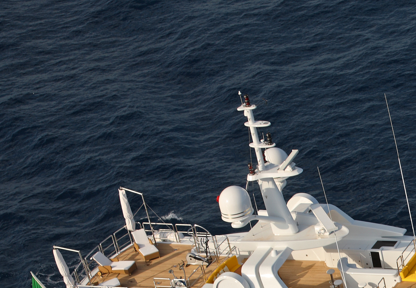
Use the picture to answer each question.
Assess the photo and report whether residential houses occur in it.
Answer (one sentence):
No, there appears to be no residential house in this shot.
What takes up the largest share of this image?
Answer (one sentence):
Most of the picture is covered by water.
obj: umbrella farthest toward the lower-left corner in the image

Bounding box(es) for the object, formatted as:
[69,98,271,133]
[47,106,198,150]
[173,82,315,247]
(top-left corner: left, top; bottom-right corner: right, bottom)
[53,246,92,288]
